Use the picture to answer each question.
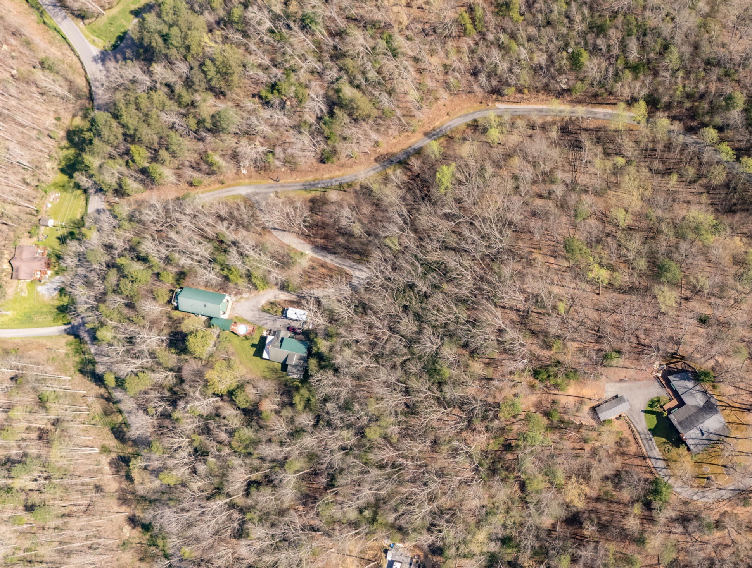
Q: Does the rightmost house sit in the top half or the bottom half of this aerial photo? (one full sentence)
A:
It is in the bottom half that the rightmost house appears.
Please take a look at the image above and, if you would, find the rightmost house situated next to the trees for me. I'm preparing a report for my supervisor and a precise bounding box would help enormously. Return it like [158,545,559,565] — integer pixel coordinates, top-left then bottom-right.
[658,362,730,453]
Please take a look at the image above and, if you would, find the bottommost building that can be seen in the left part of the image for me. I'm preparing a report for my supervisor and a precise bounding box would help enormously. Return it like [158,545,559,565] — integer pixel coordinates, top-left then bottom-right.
[262,329,310,379]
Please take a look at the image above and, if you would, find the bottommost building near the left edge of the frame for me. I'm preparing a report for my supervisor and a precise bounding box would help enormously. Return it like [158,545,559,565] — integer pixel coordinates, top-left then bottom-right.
[11,245,57,282]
